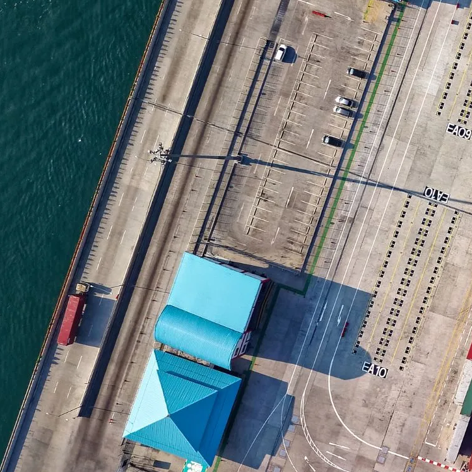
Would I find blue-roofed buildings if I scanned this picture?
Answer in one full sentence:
Yes, a blue-roofed building is visible in the scene.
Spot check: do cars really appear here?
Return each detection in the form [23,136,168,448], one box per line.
[322,136,342,148]
[336,97,355,109]
[348,67,367,79]
[332,106,353,118]
[274,43,289,64]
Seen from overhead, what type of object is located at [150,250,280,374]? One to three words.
building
